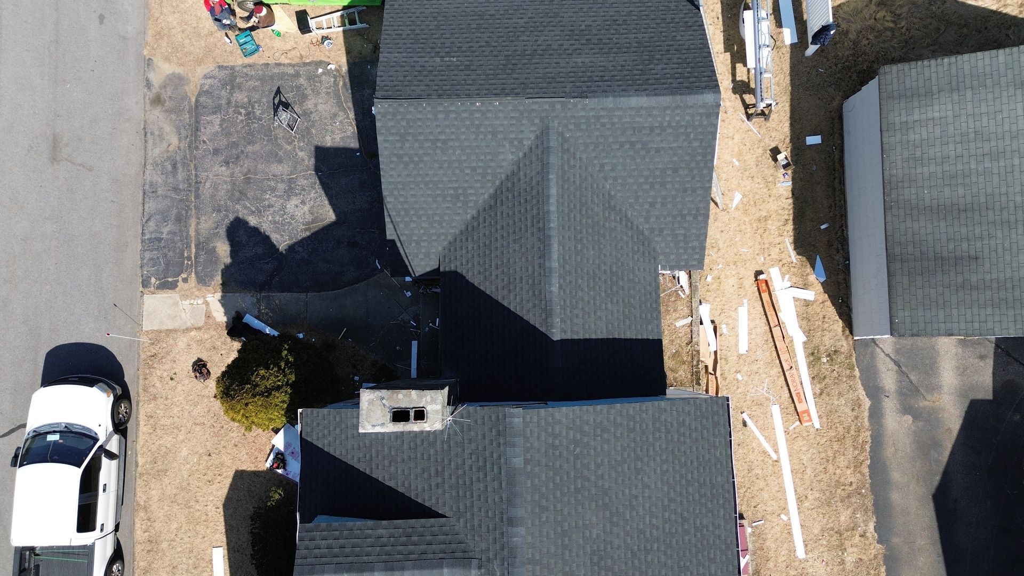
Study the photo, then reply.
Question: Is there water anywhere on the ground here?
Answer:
No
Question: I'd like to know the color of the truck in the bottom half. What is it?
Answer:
white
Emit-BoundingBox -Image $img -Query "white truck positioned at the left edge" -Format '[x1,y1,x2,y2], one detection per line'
[4,372,135,576]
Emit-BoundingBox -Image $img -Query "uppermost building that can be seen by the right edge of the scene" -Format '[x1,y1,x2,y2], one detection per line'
[841,39,1024,343]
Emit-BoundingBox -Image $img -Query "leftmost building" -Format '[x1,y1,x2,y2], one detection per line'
[289,0,742,576]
